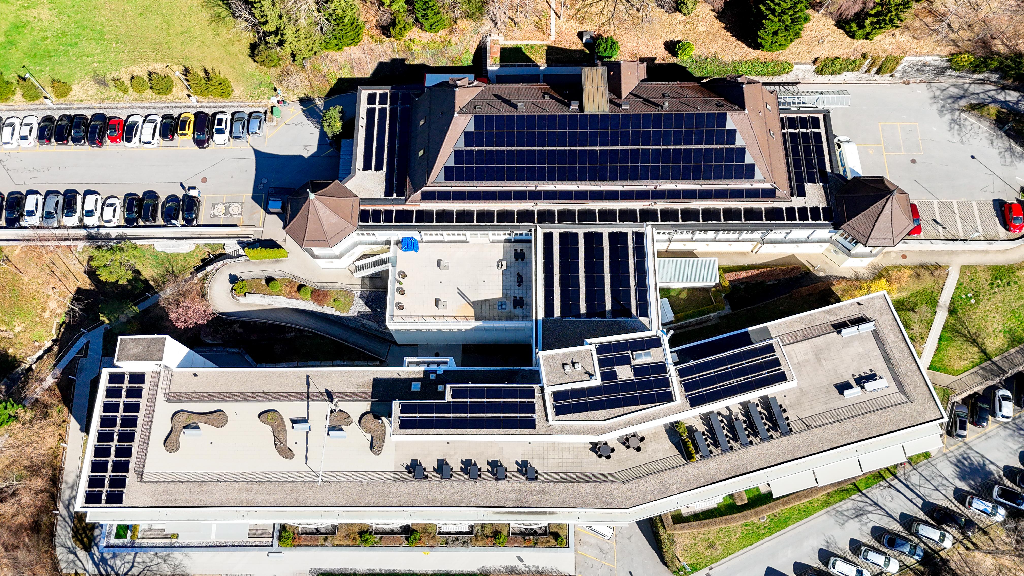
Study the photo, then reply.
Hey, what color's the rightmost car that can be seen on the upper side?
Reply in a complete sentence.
The rightmost car that can be seen on the upper side is red.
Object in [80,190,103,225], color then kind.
white car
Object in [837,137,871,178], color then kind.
white van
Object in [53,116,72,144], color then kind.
black car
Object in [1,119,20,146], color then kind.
white car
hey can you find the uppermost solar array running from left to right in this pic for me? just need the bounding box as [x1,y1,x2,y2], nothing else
[433,113,765,182]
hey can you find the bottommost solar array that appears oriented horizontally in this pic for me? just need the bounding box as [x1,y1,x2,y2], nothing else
[400,388,544,430]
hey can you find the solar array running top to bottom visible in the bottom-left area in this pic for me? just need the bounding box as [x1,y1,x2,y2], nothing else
[83,373,147,506]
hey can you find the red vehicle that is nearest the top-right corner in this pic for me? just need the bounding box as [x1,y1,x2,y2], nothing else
[1003,202,1024,232]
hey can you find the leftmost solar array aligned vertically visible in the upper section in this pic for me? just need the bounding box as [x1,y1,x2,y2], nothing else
[362,91,411,196]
